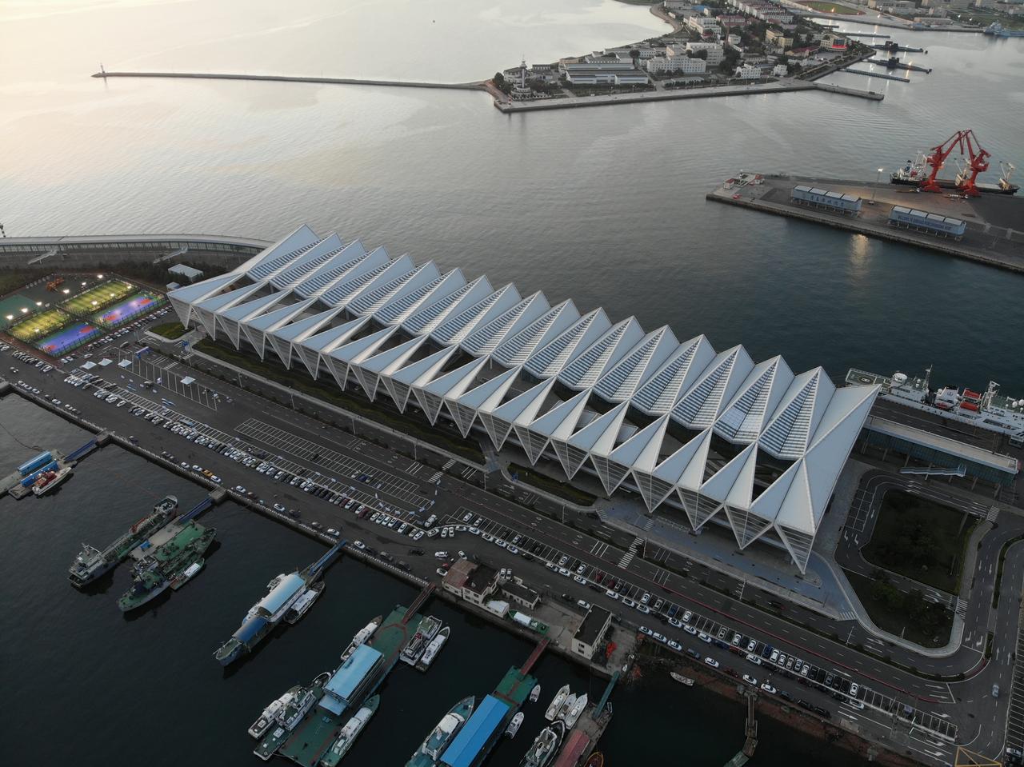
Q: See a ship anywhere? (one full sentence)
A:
Yes, a ship appears in the view.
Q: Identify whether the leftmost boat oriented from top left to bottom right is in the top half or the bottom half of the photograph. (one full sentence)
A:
The bottom half of the photo is where the leftmost boat oriented from top left to bottom right is.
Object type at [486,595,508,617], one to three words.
shed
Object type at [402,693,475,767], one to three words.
boat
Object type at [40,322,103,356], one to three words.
basketball court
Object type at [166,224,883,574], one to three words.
building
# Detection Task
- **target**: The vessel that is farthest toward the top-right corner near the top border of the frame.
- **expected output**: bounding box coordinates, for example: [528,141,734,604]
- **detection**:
[983,20,1024,41]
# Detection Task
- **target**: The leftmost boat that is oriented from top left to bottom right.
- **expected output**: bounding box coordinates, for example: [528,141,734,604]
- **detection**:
[508,606,550,640]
